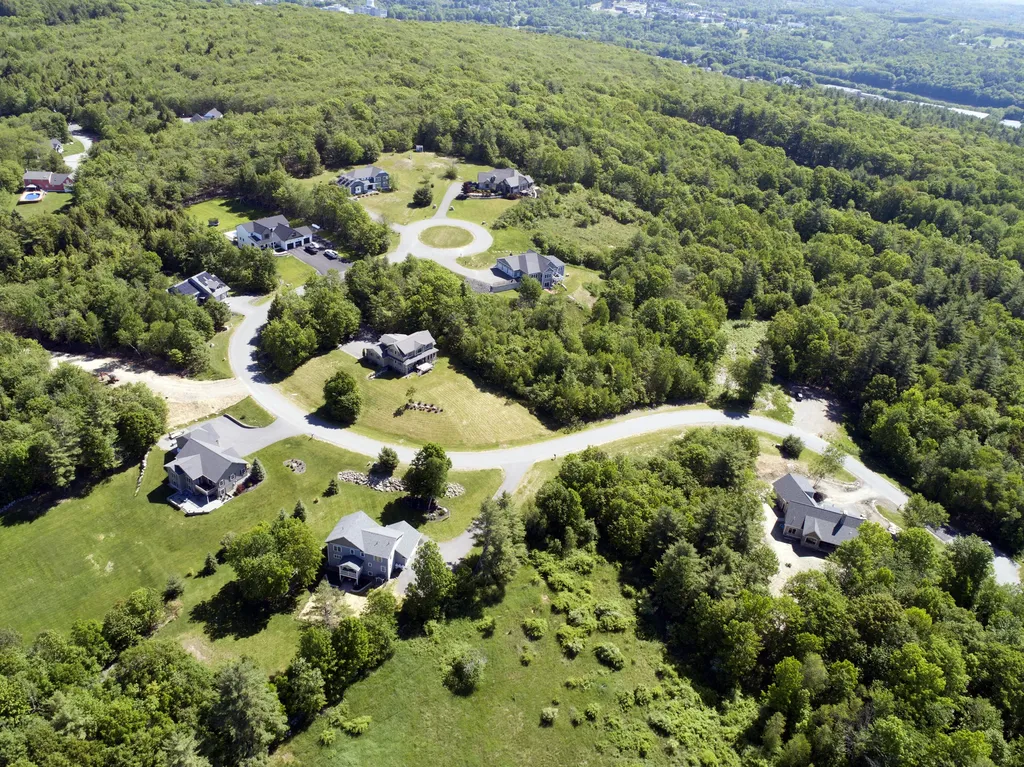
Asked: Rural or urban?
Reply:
rural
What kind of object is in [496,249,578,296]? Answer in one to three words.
house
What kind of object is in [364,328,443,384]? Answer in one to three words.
house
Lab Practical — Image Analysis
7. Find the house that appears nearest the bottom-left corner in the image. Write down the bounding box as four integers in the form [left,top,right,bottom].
[163,425,257,524]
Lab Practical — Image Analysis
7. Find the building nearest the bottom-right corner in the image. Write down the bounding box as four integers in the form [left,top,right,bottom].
[768,472,870,572]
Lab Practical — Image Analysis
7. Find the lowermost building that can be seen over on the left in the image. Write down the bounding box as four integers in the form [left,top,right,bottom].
[322,510,436,595]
